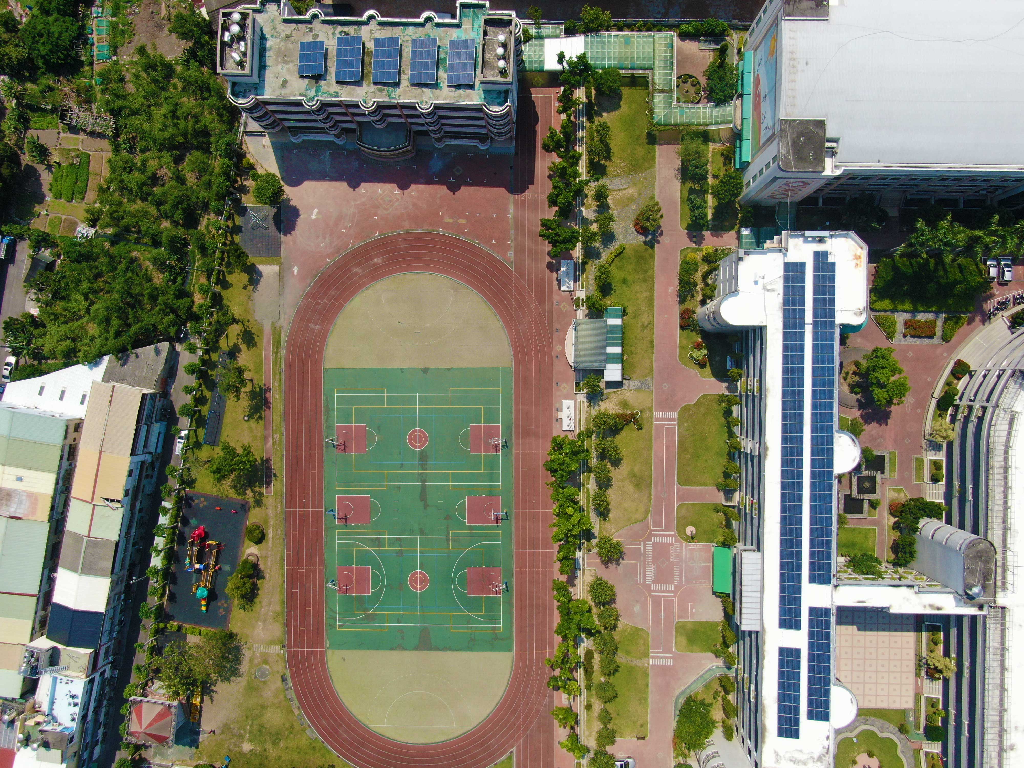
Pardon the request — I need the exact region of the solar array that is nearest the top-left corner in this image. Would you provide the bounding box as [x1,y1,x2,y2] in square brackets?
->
[298,40,325,77]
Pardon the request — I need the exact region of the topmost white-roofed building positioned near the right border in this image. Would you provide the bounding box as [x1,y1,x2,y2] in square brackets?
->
[723,0,1024,210]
